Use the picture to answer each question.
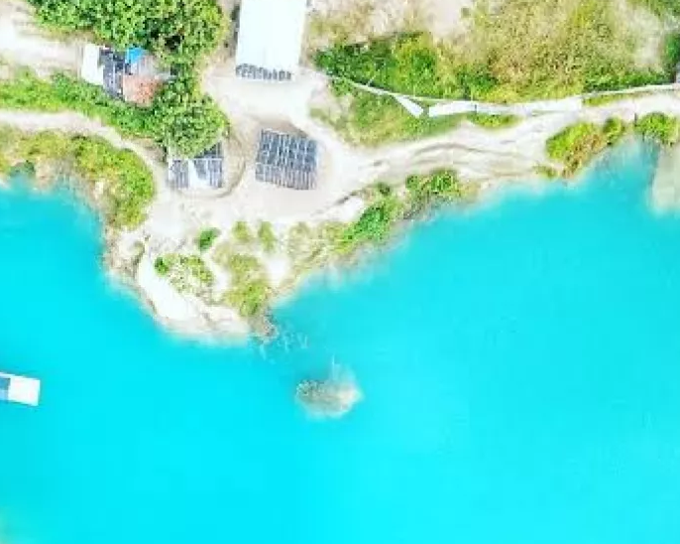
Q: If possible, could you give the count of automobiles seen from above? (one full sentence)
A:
The photo contains no automobiles.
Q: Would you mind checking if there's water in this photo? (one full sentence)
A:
Yes, there is water in the image.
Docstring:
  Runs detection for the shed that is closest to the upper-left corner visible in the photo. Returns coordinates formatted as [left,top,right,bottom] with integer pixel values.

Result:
[81,45,103,87]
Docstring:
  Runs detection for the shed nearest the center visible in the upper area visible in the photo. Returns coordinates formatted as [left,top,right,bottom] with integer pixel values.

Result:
[255,129,318,189]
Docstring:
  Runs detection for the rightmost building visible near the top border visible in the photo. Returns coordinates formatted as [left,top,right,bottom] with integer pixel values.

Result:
[235,0,307,81]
